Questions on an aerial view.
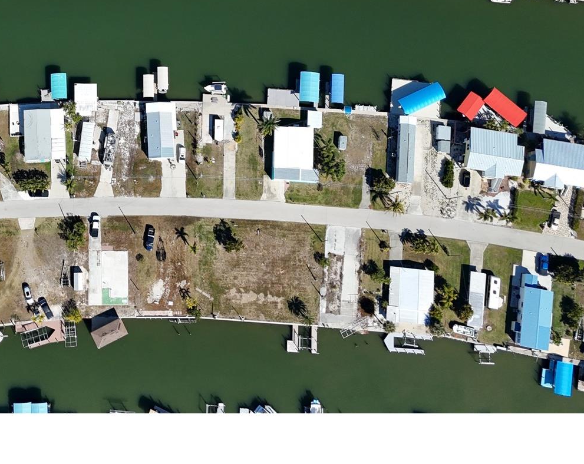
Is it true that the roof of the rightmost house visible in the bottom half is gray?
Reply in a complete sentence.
No, the roof of the rightmost house visible in the bottom half is blue.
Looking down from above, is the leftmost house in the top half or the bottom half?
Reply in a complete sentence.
The leftmost house sits in the top half of the picture.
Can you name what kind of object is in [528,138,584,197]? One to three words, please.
house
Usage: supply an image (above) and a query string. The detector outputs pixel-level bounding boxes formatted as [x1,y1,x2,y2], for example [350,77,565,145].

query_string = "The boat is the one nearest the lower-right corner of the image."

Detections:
[453,325,477,337]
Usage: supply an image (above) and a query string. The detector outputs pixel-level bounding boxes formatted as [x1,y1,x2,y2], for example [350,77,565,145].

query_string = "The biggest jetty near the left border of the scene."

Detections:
[15,320,66,350]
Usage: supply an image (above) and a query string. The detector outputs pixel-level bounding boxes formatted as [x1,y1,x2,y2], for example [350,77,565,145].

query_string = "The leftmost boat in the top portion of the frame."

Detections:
[104,132,118,172]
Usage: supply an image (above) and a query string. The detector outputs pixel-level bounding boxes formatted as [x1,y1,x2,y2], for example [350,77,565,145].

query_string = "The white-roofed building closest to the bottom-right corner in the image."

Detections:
[464,271,486,328]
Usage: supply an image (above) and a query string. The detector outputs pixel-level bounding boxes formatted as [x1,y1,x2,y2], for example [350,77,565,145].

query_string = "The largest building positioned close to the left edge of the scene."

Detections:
[23,109,66,163]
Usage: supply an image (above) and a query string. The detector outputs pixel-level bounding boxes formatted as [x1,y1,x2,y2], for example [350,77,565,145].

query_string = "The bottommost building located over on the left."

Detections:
[91,319,128,349]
